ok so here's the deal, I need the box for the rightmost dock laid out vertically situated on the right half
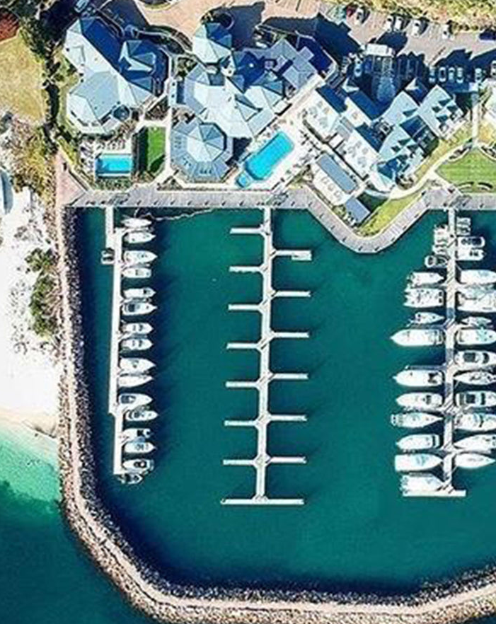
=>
[402,211,492,496]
